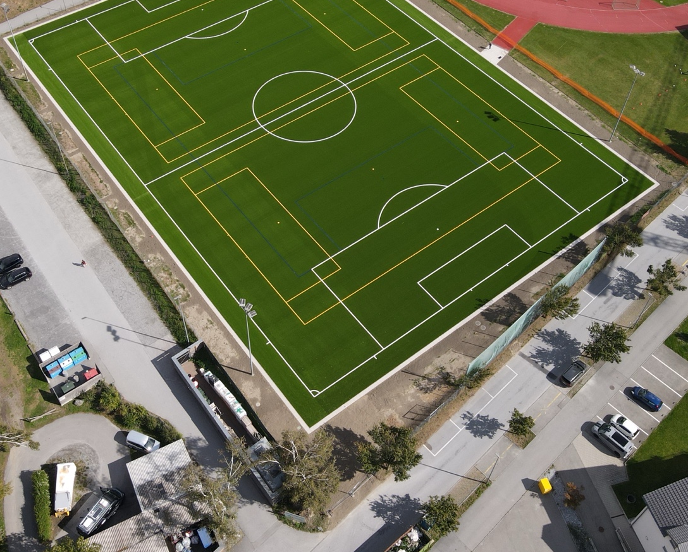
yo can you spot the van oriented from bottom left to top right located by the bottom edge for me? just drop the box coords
[79,488,127,537]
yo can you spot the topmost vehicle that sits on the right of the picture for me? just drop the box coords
[559,357,589,390]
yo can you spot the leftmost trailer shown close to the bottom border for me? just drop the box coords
[55,458,78,526]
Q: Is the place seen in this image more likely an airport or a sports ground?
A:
sports ground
